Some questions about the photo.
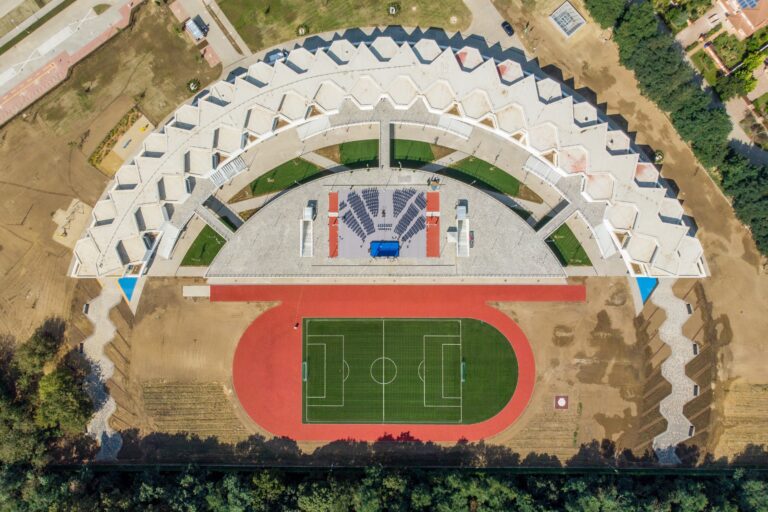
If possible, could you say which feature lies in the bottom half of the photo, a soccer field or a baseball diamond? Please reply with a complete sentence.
It is a soccer field that can be seen in the bottom half of the photo.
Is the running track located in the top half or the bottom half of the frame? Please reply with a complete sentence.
The running track sits in the bottom half of the picture.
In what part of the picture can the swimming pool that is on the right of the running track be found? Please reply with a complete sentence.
The swimming pool that is on the right of the running track is in the right part of the image.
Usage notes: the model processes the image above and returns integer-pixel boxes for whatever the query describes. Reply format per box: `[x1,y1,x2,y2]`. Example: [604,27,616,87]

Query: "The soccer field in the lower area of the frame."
[302,318,518,424]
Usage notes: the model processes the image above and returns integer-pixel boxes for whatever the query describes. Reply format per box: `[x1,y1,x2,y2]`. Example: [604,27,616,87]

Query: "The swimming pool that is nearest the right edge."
[638,278,658,302]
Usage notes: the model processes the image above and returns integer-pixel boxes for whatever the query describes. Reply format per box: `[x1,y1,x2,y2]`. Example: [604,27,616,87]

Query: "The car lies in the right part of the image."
[502,19,515,35]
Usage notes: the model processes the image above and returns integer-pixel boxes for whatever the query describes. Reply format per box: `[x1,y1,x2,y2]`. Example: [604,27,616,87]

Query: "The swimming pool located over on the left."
[117,278,137,300]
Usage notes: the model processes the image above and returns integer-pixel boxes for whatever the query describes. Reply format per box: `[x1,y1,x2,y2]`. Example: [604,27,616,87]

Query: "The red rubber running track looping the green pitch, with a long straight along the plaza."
[211,285,586,442]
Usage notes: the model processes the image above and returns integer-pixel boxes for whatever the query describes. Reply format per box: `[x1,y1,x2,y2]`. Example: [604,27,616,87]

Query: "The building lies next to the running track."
[74,37,706,279]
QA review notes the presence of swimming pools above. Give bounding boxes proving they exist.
[638,278,658,302]
[117,278,137,300]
